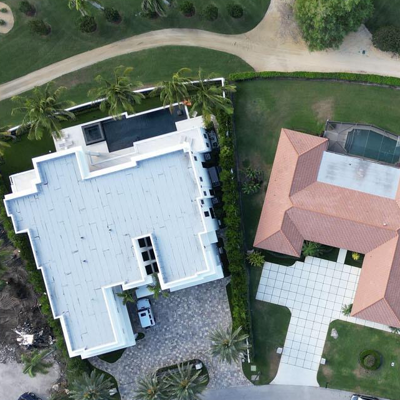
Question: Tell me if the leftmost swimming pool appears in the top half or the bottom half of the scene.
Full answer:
You can find the leftmost swimming pool in the top half.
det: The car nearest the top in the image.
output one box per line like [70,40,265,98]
[137,297,156,329]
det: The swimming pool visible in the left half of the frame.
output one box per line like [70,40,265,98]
[79,105,187,152]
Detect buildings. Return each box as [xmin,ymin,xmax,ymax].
[4,127,230,358]
[252,128,400,328]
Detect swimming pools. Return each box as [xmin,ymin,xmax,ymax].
[79,105,187,152]
[343,127,400,165]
